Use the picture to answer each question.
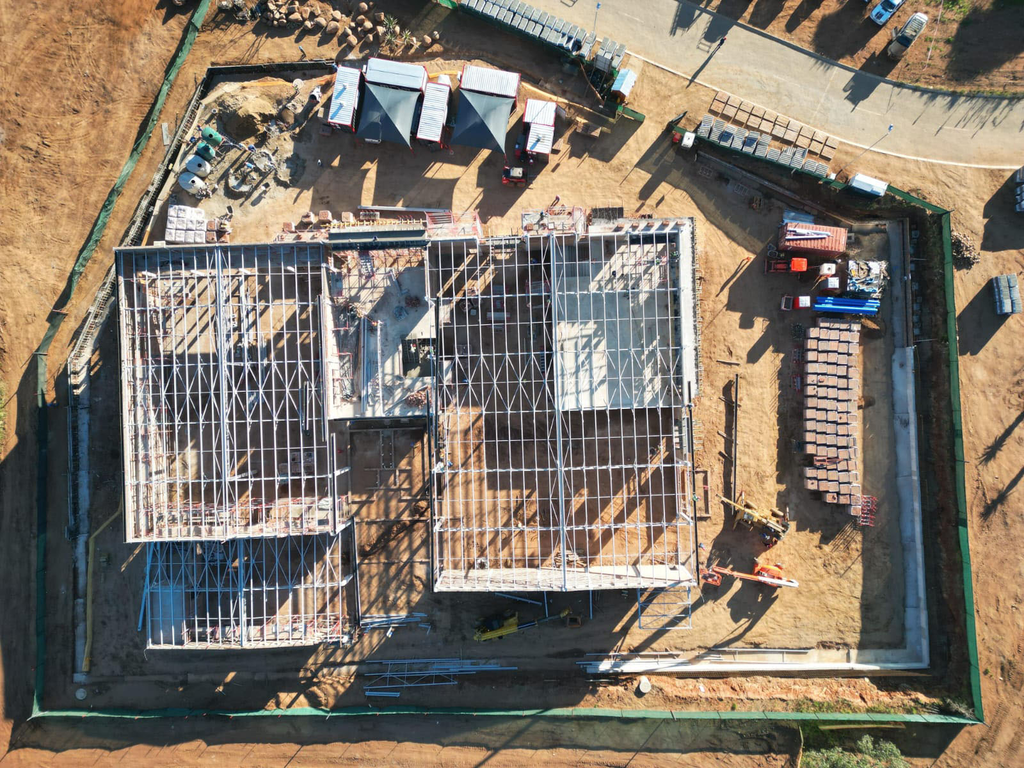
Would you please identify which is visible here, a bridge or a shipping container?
shipping container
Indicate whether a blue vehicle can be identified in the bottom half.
No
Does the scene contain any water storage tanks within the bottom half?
No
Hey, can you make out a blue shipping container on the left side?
No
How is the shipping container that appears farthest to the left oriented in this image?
up and down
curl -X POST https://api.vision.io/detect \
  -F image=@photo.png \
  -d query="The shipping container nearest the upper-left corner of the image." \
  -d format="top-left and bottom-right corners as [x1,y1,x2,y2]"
[330,67,366,134]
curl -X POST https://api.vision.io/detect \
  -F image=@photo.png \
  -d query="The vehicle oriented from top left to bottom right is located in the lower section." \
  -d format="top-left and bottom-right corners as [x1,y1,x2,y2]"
[724,496,793,545]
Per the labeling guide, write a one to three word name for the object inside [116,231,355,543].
building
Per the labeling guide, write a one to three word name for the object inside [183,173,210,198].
water tank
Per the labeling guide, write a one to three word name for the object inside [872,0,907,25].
car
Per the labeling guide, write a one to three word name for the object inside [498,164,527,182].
work vehicle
